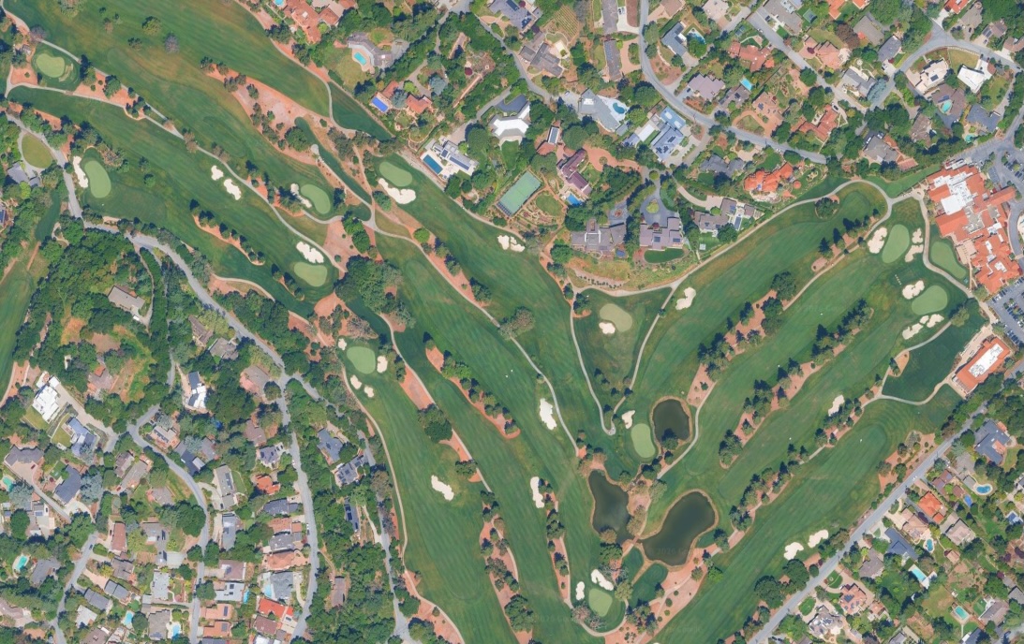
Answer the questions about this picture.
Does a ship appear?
No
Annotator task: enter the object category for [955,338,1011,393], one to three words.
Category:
building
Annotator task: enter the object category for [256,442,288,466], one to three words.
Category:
house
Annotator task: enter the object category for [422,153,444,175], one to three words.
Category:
swimming pool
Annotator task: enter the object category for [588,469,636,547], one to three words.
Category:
pond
